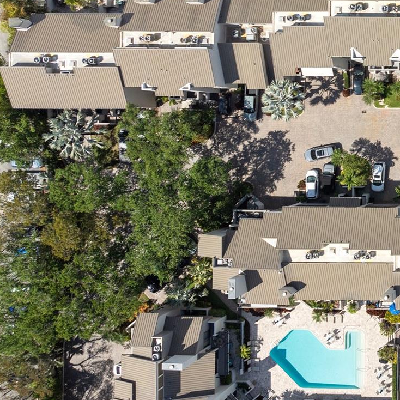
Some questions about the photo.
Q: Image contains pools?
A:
Yes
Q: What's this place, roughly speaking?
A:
residential area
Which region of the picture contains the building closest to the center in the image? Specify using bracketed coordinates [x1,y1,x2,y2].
[197,209,302,305]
